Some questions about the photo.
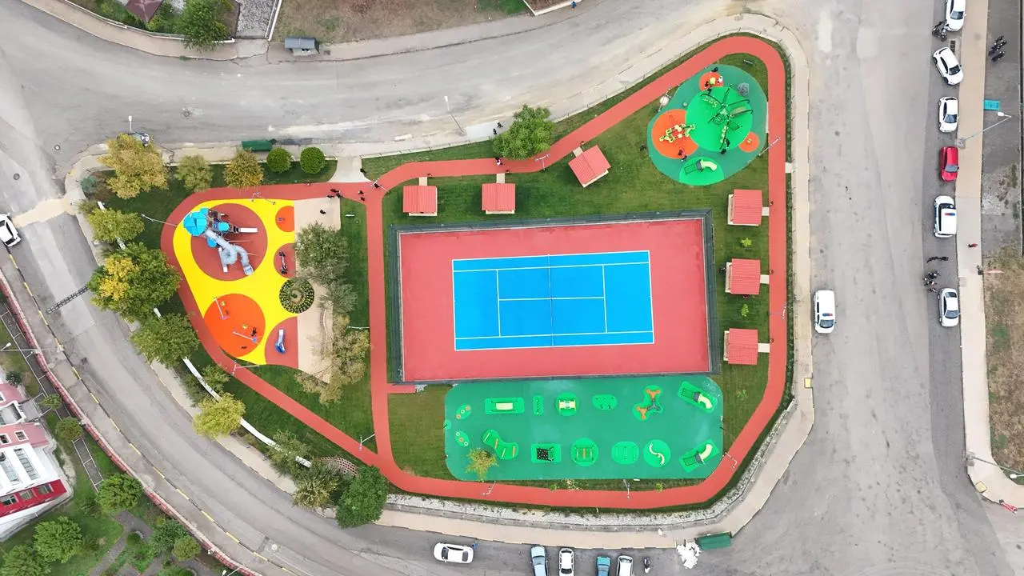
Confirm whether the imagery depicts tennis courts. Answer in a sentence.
Yes, this view includes a tennis court.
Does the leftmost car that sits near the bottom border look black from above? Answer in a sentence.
No, the color of the leftmost car that sits near the bottom border is white.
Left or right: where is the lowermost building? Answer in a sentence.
The lowermost building appears in the left half of the scene.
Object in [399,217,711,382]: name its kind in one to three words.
tennis court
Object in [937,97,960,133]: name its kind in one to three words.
car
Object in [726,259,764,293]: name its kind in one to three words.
gazebo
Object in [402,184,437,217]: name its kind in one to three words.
gazebo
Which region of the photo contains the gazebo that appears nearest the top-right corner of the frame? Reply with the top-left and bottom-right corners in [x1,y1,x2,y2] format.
[729,189,766,224]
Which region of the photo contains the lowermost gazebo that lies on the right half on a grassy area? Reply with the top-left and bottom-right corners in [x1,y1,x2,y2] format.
[724,328,762,363]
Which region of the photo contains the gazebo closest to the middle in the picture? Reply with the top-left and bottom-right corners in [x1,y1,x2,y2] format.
[482,181,515,214]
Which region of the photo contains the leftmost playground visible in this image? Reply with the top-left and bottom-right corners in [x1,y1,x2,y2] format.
[175,199,298,369]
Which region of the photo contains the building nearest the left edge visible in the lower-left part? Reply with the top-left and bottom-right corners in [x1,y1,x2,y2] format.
[0,385,70,529]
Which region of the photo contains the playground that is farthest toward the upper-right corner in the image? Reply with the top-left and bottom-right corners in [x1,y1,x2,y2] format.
[647,64,767,185]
